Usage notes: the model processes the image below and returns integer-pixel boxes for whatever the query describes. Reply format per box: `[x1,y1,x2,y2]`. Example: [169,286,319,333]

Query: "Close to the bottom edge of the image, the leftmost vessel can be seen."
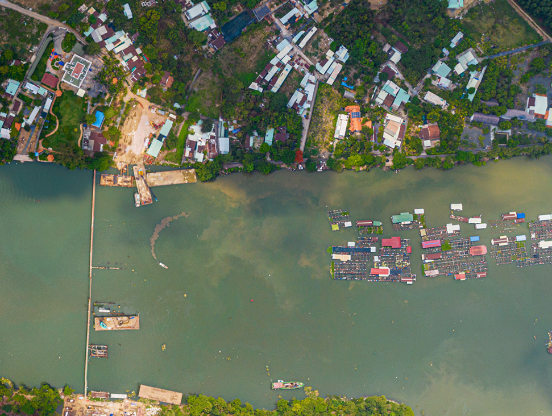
[139,385,182,404]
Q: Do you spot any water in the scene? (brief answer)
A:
Yes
